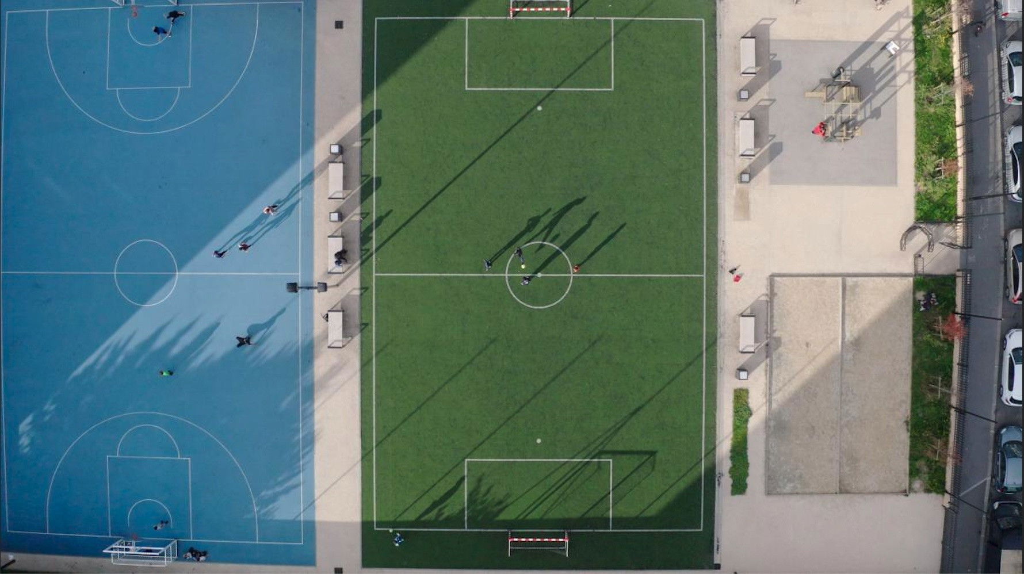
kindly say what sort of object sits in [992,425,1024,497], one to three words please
car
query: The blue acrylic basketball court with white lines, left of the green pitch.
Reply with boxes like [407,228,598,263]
[0,0,316,566]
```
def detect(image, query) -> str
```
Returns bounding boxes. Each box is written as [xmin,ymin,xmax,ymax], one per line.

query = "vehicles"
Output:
[993,502,1024,574]
[998,329,1024,409]
[998,0,1024,19]
[1003,124,1024,202]
[1003,228,1024,304]
[999,38,1024,107]
[992,425,1024,497]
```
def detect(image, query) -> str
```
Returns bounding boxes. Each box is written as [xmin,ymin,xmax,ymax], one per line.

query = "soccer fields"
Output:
[361,0,717,569]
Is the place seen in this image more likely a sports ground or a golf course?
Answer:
sports ground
